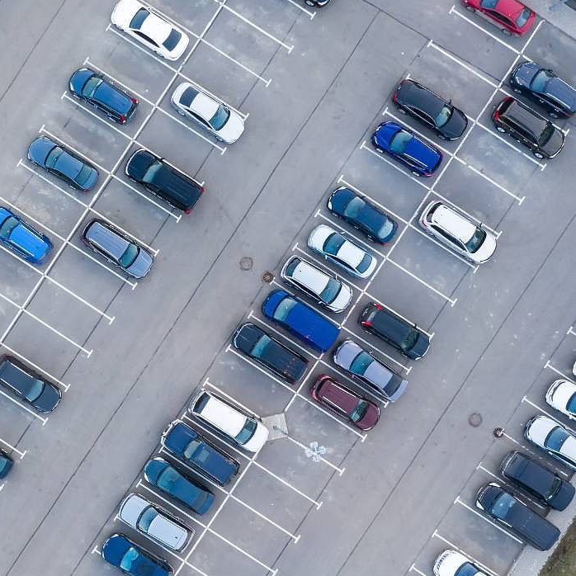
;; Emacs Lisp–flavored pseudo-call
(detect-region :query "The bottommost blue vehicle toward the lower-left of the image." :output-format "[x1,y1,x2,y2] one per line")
[102,529,174,576]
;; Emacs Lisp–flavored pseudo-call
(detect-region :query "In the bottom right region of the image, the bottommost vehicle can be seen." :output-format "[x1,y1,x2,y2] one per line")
[428,545,495,576]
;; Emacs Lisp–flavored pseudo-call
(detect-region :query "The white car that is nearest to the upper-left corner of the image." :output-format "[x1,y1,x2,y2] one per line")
[112,0,189,62]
